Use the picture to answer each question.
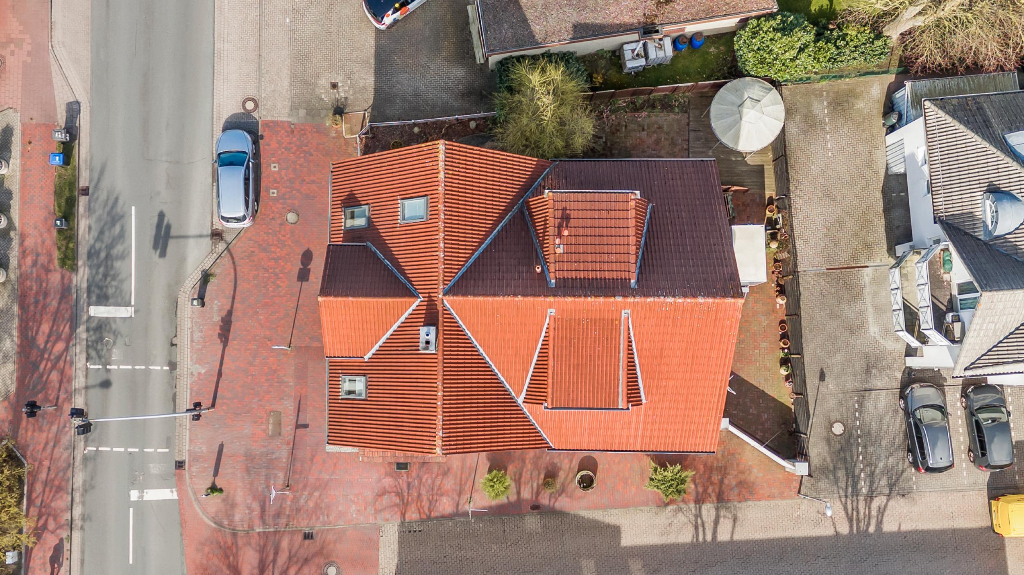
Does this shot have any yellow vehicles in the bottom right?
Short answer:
Yes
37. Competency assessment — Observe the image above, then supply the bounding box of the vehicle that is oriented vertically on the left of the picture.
[210,129,258,226]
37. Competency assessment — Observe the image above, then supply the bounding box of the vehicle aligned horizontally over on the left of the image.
[362,0,431,29]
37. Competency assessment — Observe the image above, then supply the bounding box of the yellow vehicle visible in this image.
[985,491,1024,533]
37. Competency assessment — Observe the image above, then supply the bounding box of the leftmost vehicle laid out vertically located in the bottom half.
[899,382,951,473]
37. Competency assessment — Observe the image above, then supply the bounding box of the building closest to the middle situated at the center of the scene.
[318,139,746,461]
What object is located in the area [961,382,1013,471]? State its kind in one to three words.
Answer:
car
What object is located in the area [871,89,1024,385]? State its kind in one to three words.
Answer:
house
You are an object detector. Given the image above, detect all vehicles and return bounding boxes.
[362,0,431,29]
[899,382,951,473]
[210,129,258,226]
[985,491,1024,533]
[961,382,1013,471]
